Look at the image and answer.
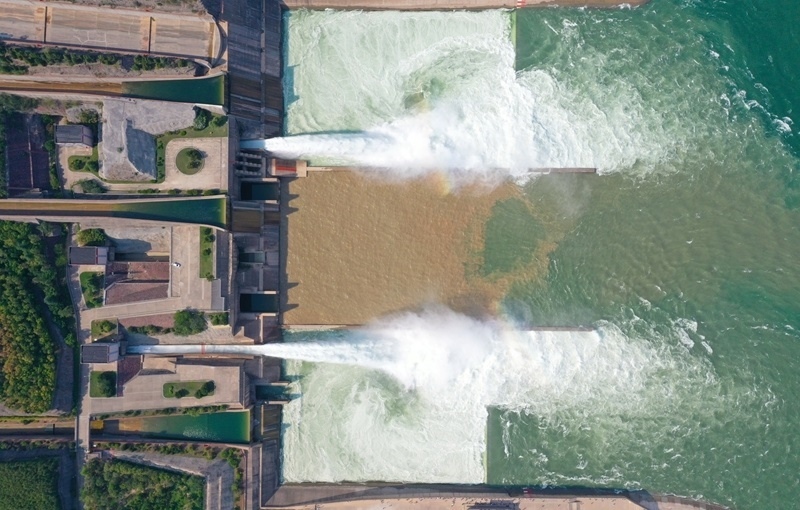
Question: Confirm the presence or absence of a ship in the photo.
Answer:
No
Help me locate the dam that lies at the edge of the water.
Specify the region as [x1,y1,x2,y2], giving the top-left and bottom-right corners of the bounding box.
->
[206,0,283,510]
